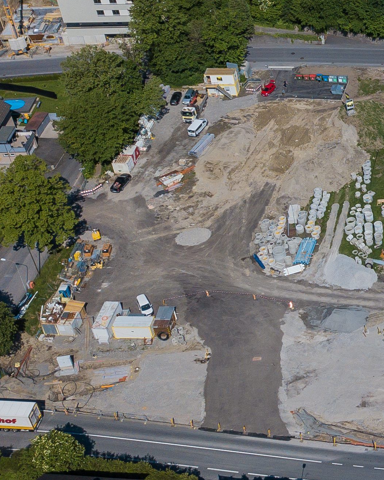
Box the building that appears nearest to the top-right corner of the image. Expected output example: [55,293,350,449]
[201,70,241,98]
